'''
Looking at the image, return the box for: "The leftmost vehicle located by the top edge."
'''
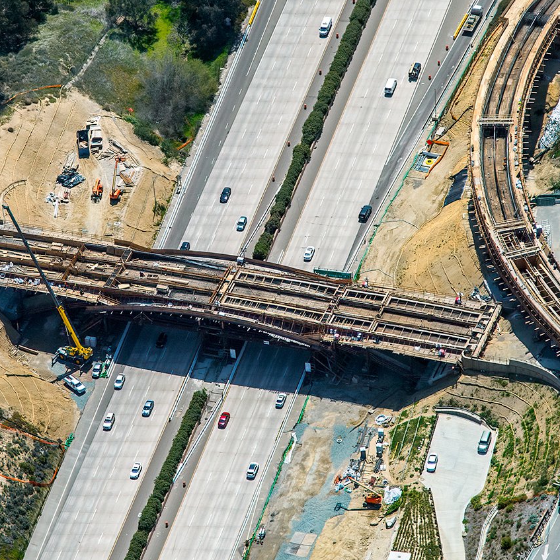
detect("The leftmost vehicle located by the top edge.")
[319,17,332,34]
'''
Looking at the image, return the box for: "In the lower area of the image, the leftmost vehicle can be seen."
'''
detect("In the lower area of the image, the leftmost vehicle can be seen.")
[63,375,85,392]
